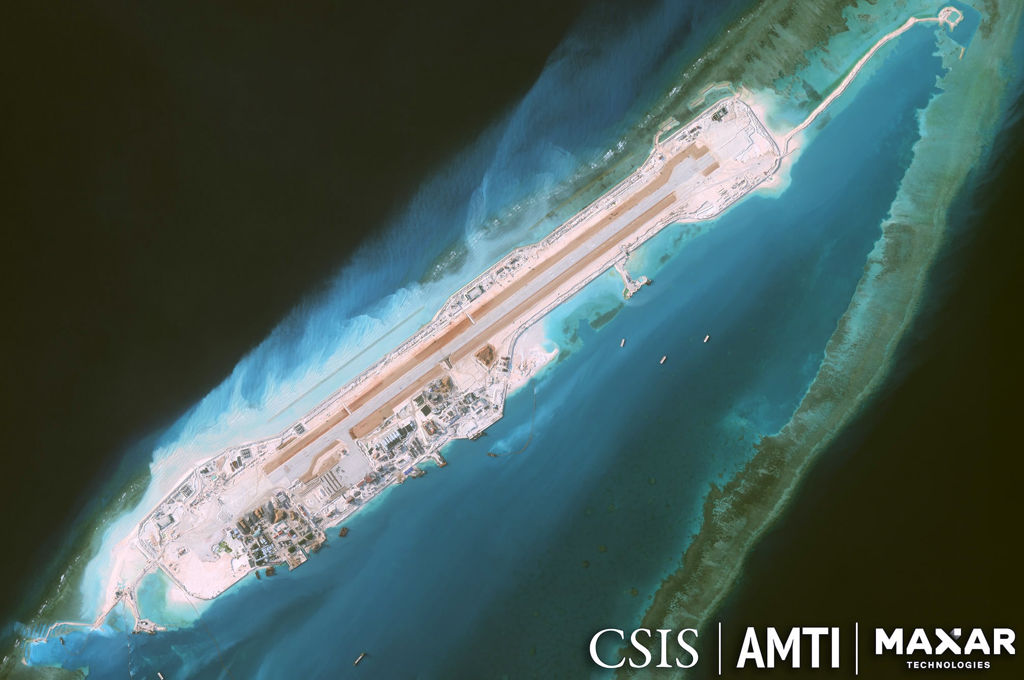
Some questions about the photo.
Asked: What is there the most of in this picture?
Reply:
water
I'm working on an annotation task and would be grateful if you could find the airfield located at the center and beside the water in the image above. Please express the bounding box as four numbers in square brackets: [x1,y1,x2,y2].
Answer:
[262,142,720,499]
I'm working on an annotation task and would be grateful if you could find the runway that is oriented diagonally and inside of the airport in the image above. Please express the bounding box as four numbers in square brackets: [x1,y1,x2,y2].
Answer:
[266,179,677,487]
